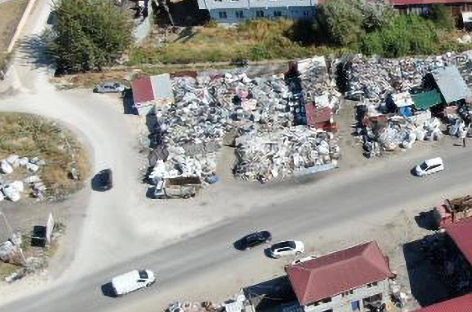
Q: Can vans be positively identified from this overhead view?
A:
Yes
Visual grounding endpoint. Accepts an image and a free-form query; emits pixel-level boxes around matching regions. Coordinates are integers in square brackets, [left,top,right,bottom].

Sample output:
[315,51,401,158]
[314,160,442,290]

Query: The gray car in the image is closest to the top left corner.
[93,81,125,96]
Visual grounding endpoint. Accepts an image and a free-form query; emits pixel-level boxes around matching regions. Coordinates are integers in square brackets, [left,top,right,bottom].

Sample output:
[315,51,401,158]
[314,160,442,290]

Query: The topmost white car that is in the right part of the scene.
[412,152,448,178]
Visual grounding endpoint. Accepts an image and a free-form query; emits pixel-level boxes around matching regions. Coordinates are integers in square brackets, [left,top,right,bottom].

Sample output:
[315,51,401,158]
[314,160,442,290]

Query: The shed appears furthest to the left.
[133,73,175,117]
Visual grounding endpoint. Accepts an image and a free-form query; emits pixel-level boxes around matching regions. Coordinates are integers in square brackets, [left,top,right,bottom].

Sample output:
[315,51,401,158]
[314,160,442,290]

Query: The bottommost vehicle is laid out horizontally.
[106,267,159,297]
